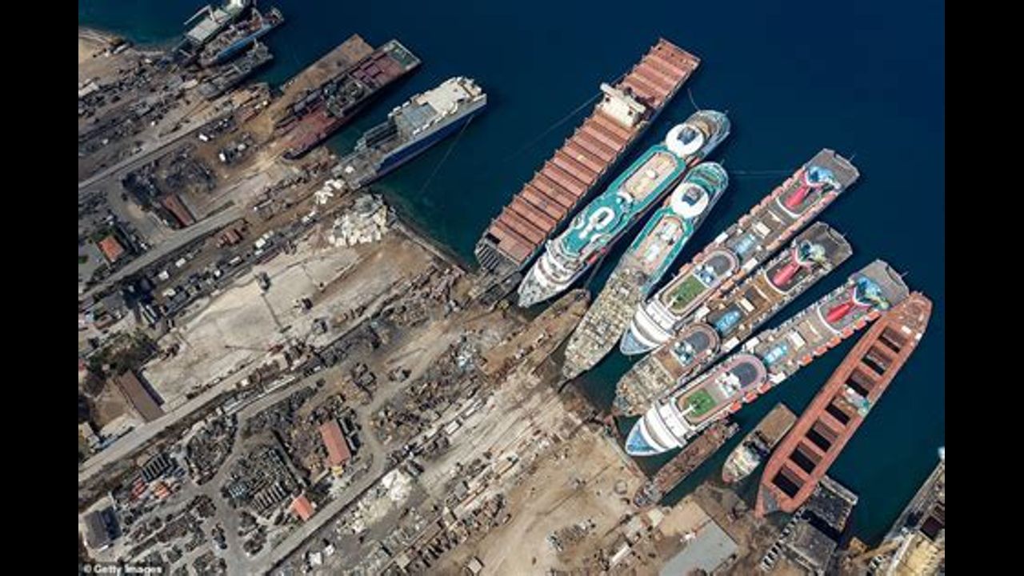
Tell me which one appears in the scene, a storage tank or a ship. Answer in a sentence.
Visible in the photo is a ship.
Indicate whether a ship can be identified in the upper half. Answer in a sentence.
Yes, a ship appears in the upper half.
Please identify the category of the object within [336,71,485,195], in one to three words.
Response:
ship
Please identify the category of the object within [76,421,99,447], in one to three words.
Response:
house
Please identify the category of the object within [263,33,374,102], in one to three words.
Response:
ship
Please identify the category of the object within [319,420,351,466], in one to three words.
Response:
shed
